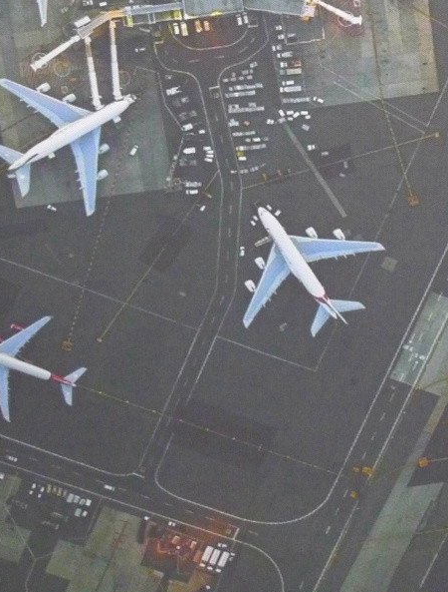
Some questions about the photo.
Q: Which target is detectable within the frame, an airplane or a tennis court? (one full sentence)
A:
The image shows an airplane.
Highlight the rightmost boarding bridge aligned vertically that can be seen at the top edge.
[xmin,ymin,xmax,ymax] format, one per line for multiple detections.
[106,20,124,102]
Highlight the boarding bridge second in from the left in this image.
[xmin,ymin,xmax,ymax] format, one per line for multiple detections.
[81,35,104,112]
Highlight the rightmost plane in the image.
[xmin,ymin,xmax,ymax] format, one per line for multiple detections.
[249,207,383,341]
